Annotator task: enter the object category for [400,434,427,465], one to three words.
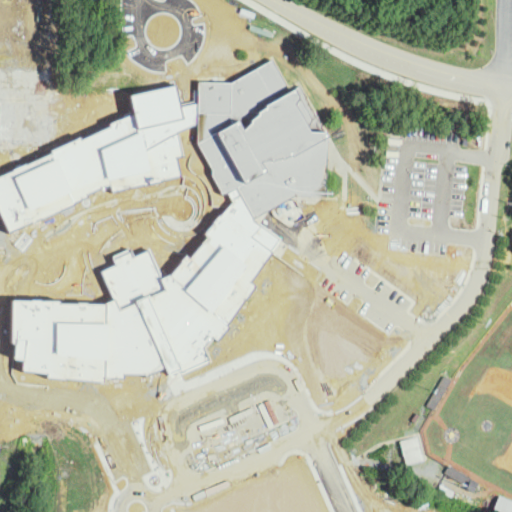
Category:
building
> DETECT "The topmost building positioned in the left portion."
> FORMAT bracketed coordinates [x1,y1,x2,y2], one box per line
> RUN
[0,58,328,384]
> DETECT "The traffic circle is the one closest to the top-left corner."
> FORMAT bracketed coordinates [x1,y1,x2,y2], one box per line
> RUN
[124,0,206,74]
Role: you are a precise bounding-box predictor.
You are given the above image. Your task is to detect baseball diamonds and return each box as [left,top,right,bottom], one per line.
[422,300,512,502]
